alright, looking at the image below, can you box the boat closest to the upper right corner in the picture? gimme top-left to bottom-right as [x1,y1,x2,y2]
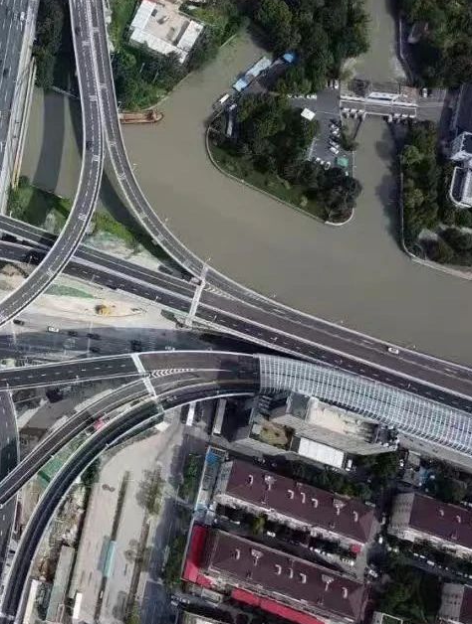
[242,51,274,79]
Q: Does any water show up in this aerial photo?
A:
Yes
